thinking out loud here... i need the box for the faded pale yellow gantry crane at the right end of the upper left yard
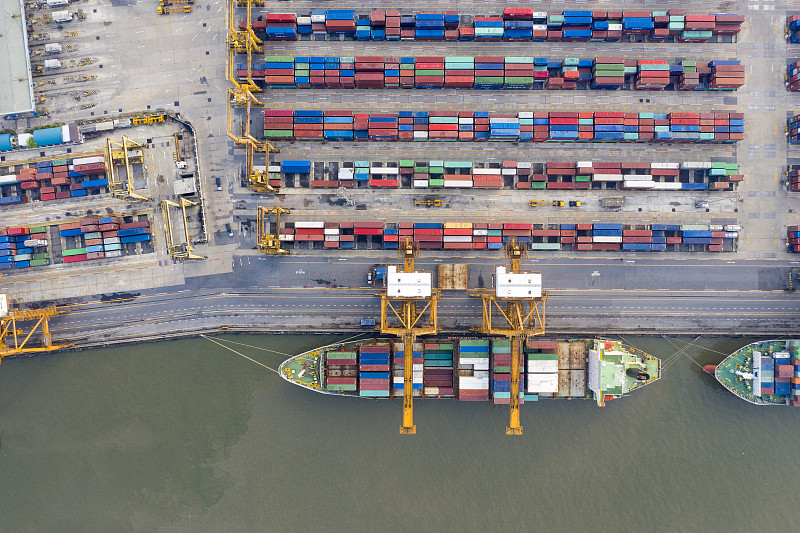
[102,134,156,202]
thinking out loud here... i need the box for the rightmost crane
[469,234,545,436]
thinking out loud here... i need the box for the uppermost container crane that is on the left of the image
[227,0,265,44]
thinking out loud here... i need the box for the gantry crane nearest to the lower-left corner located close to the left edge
[0,262,75,369]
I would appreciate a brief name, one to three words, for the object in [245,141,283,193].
container crane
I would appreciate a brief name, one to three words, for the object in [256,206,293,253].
container crane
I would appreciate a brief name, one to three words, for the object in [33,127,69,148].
shed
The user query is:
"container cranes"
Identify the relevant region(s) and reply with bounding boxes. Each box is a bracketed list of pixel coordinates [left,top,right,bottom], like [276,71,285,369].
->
[227,33,265,92]
[102,134,156,202]
[227,0,265,44]
[372,233,443,436]
[0,262,75,369]
[245,141,283,193]
[225,90,264,145]
[160,195,209,258]
[469,234,545,436]
[256,206,293,253]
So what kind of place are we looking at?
port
